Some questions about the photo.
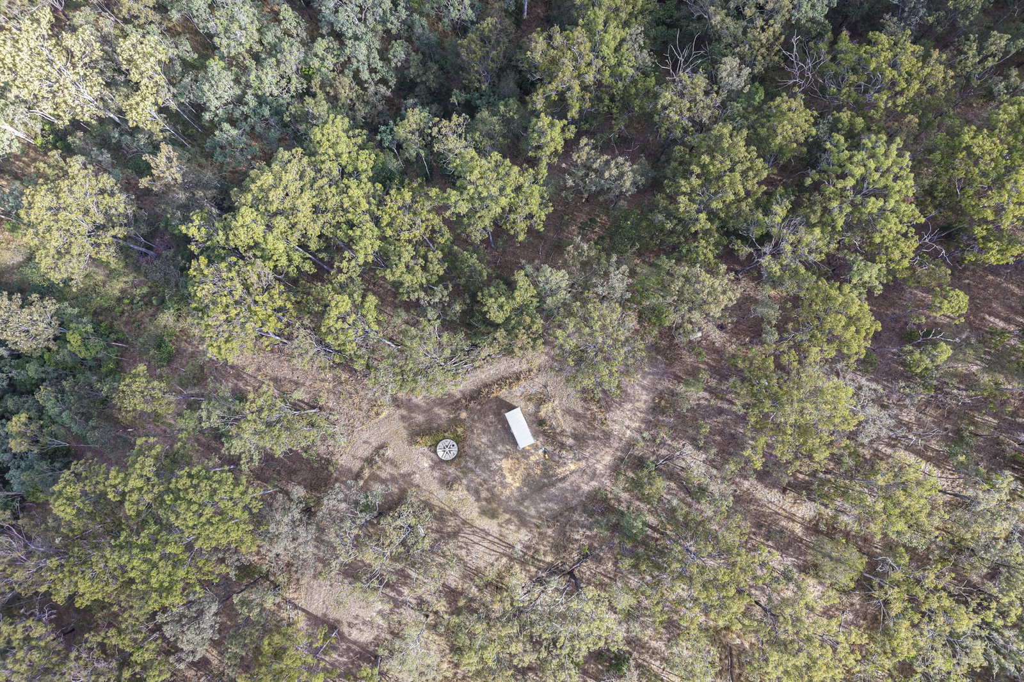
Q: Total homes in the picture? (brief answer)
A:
zero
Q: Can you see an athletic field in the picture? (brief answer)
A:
No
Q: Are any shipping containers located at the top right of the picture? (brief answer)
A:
No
